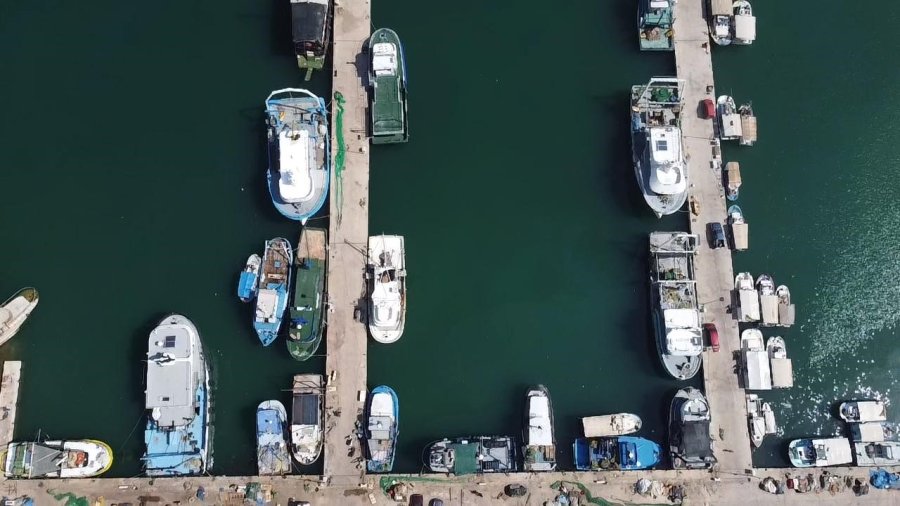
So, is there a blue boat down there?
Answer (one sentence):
Yes, there's a blue boat here.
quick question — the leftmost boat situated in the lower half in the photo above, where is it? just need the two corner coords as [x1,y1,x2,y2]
[0,286,42,348]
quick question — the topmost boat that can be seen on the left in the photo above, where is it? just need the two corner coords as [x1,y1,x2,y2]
[289,0,336,81]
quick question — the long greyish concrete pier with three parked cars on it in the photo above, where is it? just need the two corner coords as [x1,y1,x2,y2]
[673,0,752,468]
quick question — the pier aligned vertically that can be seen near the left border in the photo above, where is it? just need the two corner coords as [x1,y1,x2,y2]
[0,361,26,478]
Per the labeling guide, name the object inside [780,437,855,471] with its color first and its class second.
white boat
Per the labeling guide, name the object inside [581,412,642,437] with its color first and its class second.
white boat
